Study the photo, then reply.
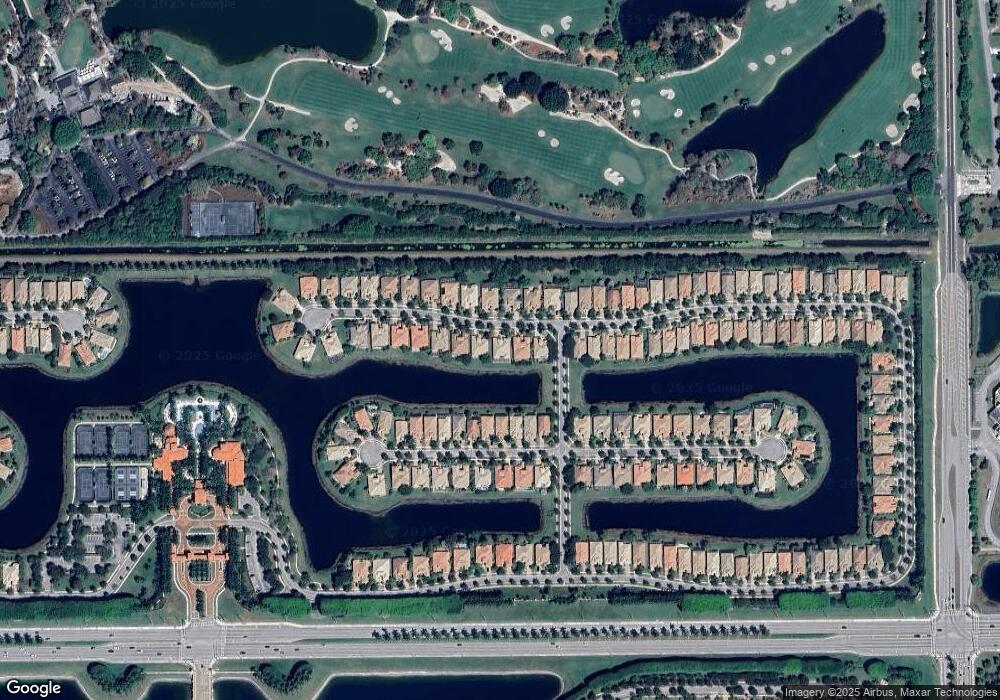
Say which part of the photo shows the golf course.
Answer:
top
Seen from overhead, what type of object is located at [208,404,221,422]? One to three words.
swimming pool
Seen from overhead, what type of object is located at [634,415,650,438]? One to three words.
house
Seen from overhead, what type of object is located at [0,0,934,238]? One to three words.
golf course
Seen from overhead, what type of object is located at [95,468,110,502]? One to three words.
tennis court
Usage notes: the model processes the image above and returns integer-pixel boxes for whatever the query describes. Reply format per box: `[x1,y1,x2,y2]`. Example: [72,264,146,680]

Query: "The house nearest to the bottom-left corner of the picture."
[2,563,19,586]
